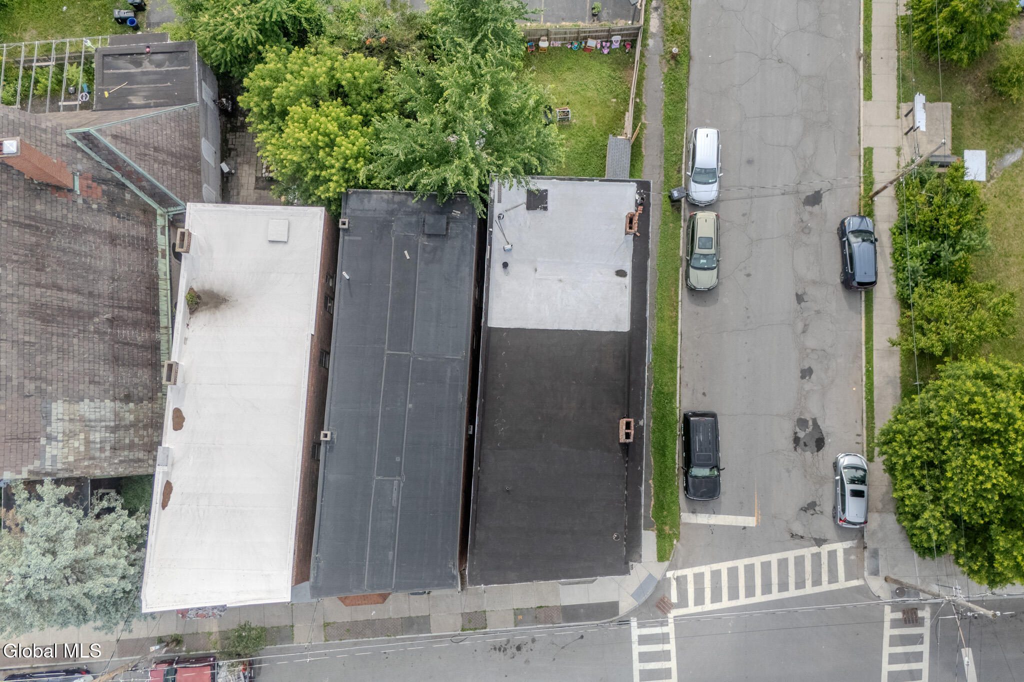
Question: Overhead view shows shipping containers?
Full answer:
No, there appears to be no shipping container in this shot.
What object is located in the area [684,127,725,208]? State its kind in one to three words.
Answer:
car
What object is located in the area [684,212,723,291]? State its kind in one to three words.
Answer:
car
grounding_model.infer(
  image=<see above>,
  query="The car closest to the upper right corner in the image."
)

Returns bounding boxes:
[837,215,881,293]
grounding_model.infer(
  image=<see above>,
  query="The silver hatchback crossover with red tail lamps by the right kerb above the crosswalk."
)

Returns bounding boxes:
[830,449,875,531]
